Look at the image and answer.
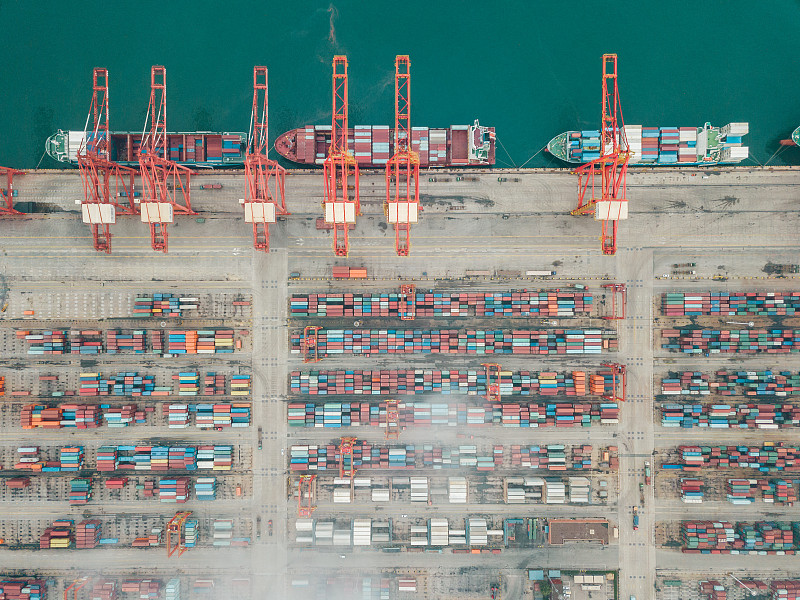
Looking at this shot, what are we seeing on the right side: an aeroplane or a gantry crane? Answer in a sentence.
Visible on the right side is a gantry crane.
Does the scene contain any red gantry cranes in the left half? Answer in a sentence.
Yes, there is a red gantry crane in the left half.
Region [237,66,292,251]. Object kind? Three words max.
container crane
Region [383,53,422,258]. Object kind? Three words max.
container crane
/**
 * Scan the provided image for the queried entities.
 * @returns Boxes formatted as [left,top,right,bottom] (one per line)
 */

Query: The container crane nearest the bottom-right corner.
[598,364,627,405]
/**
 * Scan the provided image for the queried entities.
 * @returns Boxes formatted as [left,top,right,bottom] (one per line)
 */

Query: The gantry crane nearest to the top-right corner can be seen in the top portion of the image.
[569,52,633,258]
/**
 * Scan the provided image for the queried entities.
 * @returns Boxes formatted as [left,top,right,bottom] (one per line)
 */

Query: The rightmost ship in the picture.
[778,127,800,152]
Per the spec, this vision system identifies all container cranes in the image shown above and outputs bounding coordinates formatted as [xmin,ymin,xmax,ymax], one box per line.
[320,53,364,258]
[569,52,633,258]
[76,66,145,251]
[134,66,198,251]
[339,438,359,482]
[479,365,502,405]
[598,364,627,405]
[304,326,325,365]
[237,66,292,251]
[0,165,26,214]
[598,284,627,321]
[166,512,195,558]
[399,283,417,320]
[385,400,403,442]
[298,475,320,520]
[383,53,422,258]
